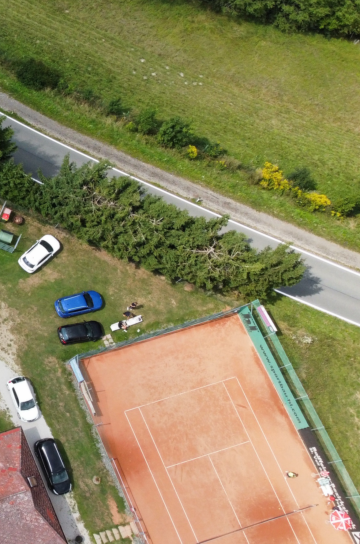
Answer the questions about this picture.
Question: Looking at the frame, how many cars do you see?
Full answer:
I count 5 cars.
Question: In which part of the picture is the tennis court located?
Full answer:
The tennis court is in the bottom part of the image.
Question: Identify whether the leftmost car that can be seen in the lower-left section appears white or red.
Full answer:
The leftmost car that can be seen in the lower-left section is white.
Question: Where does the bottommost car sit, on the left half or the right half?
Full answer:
The bottommost car appears in the left half of the scene.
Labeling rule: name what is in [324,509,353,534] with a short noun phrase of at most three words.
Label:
umbrella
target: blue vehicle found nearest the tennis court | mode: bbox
[53,289,104,317]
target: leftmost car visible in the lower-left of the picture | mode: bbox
[6,374,39,424]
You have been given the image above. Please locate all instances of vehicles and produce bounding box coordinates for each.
[36,438,72,495]
[53,289,104,317]
[6,374,39,424]
[19,233,59,276]
[56,319,105,347]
